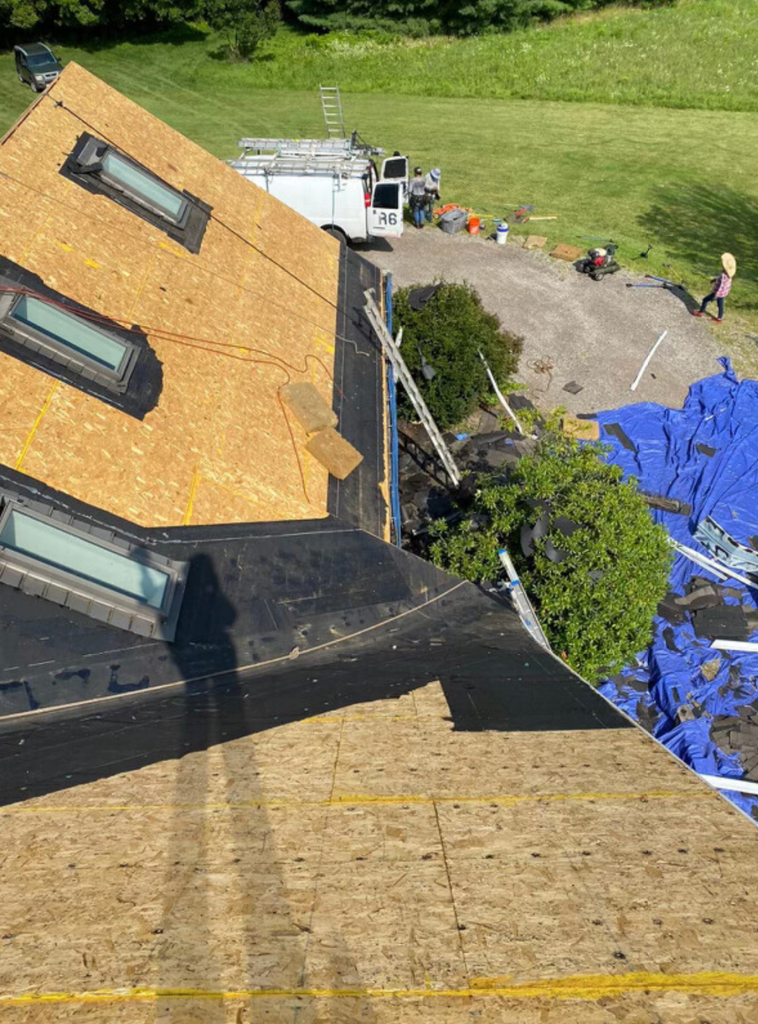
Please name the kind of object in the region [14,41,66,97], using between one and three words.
car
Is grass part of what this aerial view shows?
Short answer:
Yes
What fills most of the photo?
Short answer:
buildings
